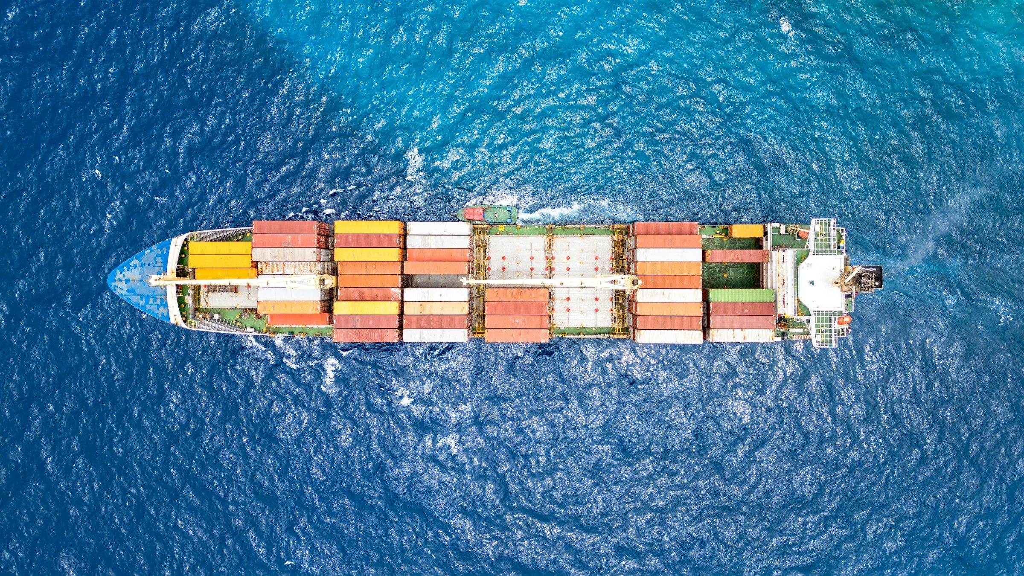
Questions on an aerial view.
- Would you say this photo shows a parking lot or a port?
port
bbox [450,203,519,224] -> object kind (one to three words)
boat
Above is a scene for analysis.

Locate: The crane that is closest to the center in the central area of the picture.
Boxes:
[460,273,638,294]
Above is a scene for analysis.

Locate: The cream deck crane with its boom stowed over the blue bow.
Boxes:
[144,273,339,290]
